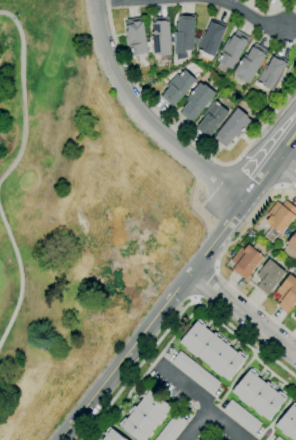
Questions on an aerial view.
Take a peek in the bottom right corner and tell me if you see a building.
Yes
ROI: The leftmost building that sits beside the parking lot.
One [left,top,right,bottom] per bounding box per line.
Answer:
[120,392,170,440]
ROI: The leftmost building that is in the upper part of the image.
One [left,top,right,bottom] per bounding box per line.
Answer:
[128,20,148,55]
